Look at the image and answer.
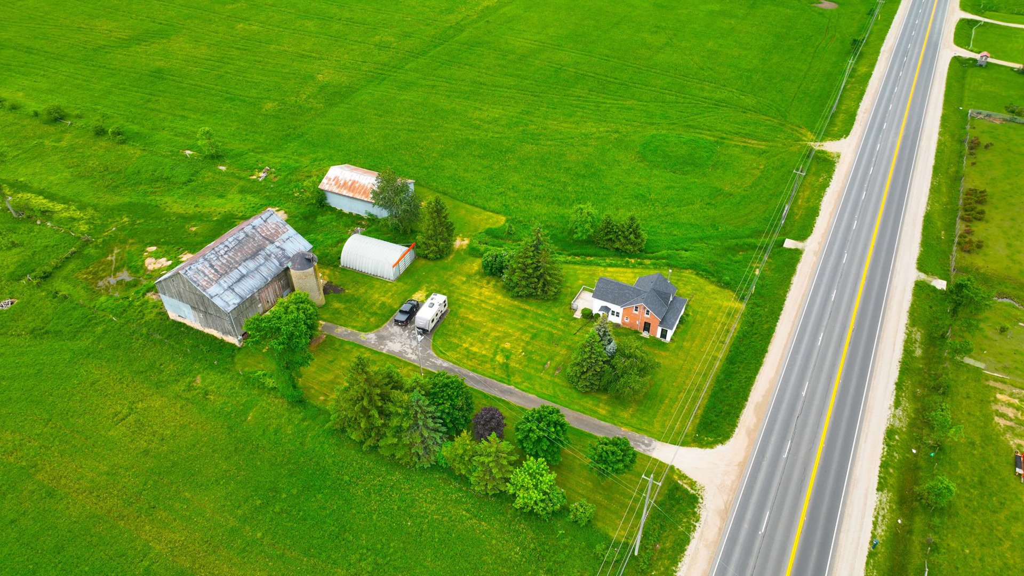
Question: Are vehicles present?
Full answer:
Yes, a vehicle appears in the view.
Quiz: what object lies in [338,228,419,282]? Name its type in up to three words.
shed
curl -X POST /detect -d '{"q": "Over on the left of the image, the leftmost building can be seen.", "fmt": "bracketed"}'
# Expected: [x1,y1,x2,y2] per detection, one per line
[153,211,313,347]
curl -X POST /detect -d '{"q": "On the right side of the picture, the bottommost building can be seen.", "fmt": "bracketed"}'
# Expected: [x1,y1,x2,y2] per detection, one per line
[573,269,688,342]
